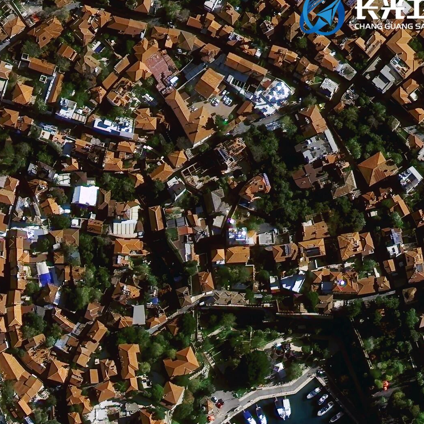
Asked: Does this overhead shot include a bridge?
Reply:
No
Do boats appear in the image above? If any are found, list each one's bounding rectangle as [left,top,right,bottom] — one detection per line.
[319,400,335,415]
[330,411,343,422]
[320,394,328,405]
[243,410,256,424]
[255,406,267,424]
[273,399,286,419]
[283,399,292,416]
[308,386,323,397]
